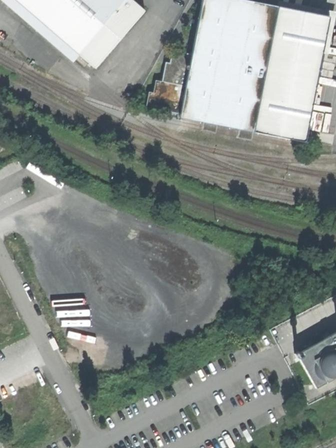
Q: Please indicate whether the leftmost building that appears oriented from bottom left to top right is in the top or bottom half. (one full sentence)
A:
You can find the leftmost building that appears oriented from bottom left to top right in the top half.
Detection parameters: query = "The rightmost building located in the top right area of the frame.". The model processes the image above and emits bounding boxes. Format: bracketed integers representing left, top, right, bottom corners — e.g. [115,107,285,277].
[256,4,330,139]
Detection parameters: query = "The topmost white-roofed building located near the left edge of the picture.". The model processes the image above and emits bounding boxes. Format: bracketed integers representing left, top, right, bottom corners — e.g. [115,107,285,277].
[2,0,103,60]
